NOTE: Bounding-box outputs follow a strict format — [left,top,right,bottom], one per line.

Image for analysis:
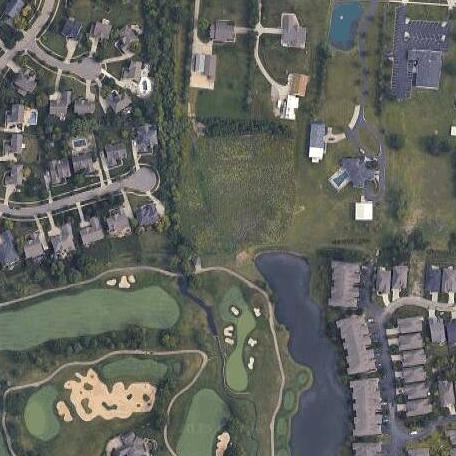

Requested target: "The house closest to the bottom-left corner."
[117,430,153,456]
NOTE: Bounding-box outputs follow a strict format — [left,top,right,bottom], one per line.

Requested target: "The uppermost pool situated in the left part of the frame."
[139,76,152,96]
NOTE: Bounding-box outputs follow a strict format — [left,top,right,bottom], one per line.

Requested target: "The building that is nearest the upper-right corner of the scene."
[407,50,441,89]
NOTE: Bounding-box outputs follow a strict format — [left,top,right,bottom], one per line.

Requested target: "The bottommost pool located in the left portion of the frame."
[68,135,91,153]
